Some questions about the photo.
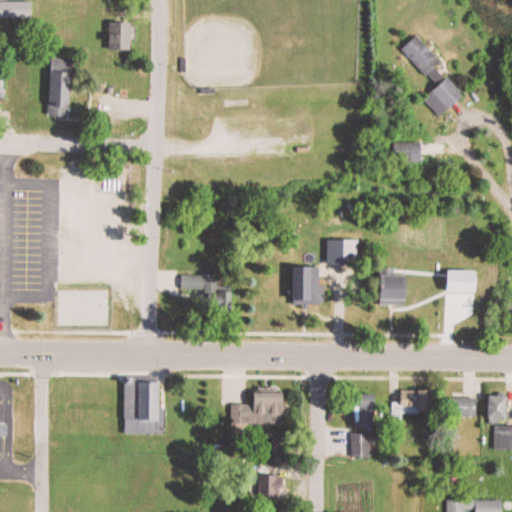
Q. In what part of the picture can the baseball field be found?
top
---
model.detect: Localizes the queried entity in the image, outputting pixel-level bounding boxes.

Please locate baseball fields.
[184,0,356,88]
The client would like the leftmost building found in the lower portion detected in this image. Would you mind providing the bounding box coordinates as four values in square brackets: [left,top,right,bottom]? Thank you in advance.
[124,376,164,434]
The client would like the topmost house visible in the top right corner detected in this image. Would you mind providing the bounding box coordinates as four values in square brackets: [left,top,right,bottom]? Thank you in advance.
[402,38,464,110]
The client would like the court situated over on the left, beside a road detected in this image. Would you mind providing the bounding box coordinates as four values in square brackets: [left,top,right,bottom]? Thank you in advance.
[56,283,112,329]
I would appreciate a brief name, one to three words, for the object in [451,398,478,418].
house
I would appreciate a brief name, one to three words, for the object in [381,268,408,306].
house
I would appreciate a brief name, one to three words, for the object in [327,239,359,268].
building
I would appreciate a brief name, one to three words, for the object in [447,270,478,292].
building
